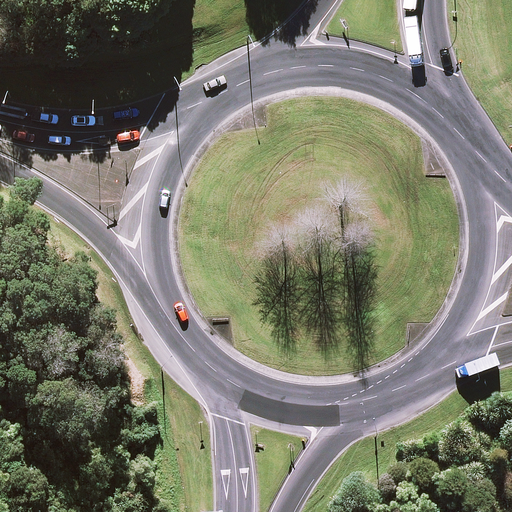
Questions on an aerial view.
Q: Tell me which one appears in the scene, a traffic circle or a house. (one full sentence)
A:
Looking from above, you can make out a traffic circle.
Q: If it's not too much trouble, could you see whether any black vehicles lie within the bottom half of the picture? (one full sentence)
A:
No, no black vehicle appears within the bottom half of the picture.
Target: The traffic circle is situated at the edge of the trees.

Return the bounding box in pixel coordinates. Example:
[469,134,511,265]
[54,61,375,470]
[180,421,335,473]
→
[134,46,507,421]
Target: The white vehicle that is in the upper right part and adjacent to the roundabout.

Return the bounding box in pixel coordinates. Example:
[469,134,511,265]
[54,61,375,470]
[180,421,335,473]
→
[403,15,424,66]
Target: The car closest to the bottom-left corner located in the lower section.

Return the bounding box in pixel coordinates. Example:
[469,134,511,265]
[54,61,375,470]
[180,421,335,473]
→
[174,300,188,322]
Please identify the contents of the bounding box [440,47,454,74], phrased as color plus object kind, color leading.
black car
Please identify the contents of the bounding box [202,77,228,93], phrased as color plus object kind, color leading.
white car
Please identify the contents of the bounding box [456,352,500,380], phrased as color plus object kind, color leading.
white truck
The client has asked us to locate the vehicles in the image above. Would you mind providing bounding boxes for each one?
[456,352,500,380]
[202,77,228,93]
[440,47,454,74]
[48,135,71,146]
[38,112,61,124]
[116,130,140,142]
[403,15,424,66]
[160,188,170,209]
[404,0,418,12]
[174,300,188,322]
[72,115,96,126]
[12,130,35,142]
